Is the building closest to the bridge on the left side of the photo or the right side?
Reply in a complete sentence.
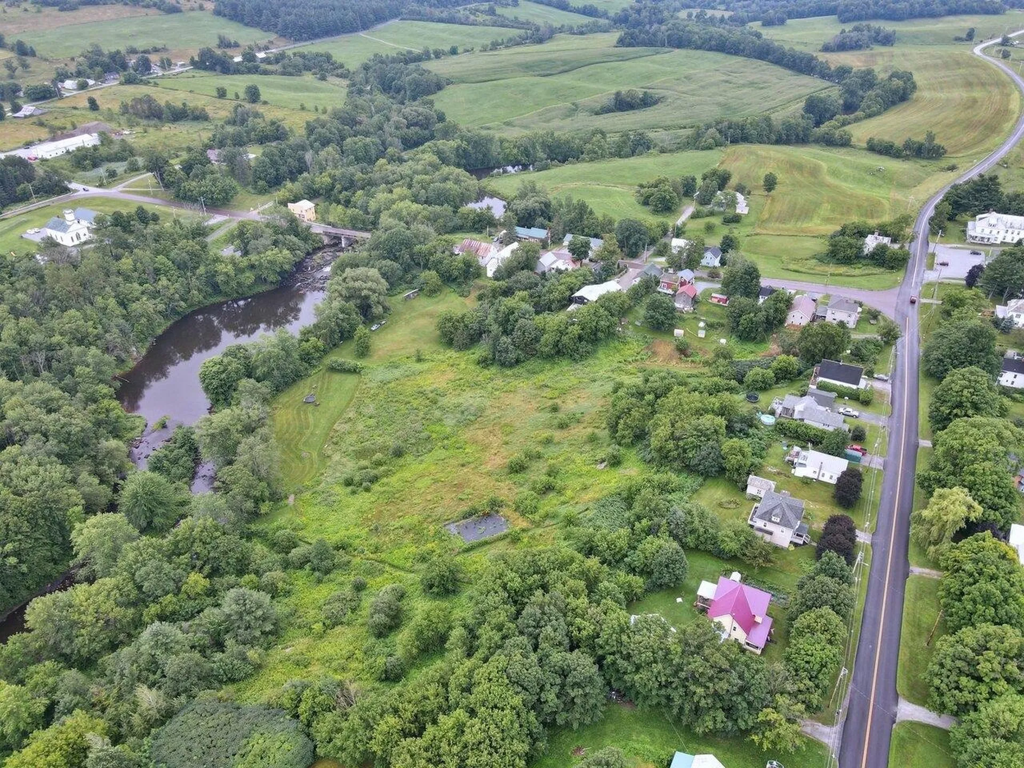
It is on the left.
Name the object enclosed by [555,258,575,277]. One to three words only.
house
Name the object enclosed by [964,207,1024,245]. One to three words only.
house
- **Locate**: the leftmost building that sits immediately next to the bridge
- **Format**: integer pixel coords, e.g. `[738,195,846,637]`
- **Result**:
[292,198,320,221]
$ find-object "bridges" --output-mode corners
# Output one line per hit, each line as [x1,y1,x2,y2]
[309,221,395,244]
